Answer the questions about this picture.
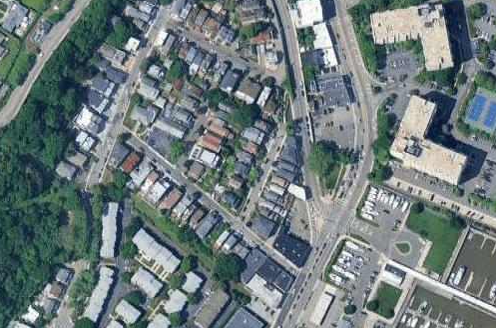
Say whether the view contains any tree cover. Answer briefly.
Yes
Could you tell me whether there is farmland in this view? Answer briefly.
No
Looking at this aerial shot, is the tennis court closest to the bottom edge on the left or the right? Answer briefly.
right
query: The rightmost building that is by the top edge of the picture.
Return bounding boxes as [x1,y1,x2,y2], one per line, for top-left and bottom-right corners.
[371,4,453,73]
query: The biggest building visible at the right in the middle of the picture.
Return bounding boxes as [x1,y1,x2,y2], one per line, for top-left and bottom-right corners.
[391,96,467,185]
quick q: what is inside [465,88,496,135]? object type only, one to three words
tennis court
